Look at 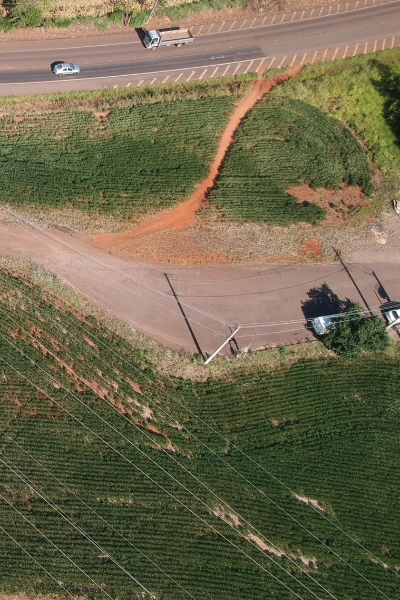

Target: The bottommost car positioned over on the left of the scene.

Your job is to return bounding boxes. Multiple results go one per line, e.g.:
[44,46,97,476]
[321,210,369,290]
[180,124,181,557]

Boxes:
[53,63,82,77]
